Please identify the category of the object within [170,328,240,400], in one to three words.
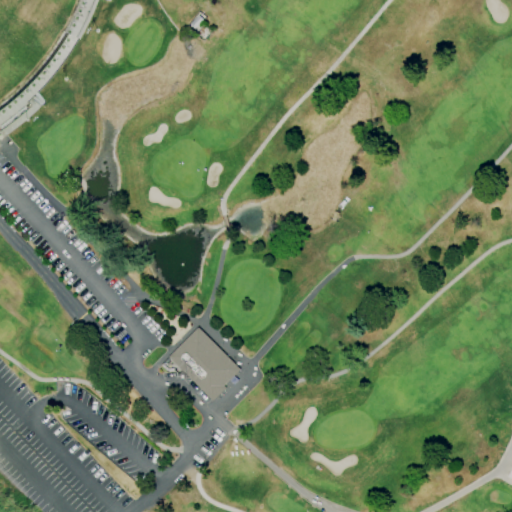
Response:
building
